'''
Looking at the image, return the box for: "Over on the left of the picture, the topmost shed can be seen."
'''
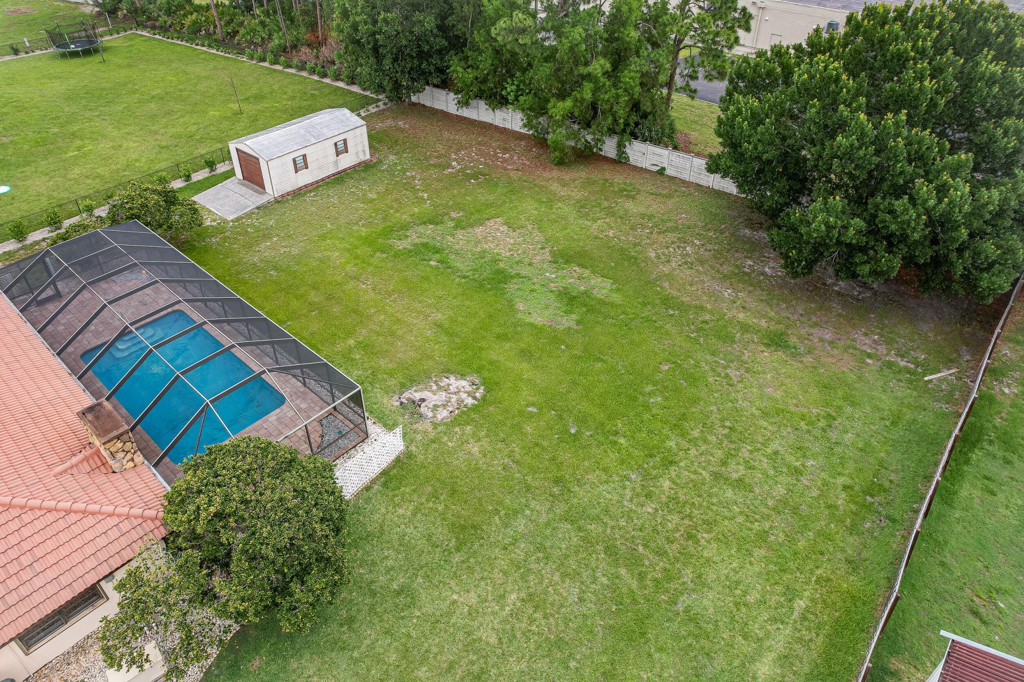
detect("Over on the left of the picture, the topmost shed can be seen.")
[224,105,366,196]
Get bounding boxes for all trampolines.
[40,18,109,66]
